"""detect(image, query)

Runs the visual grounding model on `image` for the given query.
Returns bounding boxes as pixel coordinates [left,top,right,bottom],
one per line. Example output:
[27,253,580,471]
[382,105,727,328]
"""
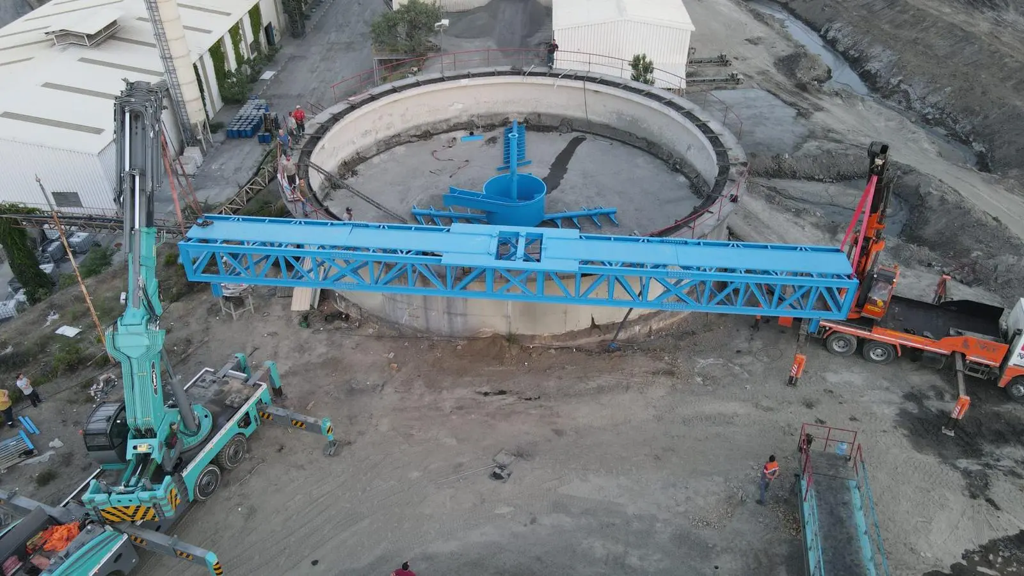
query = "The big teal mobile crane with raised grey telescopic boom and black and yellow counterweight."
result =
[0,84,341,576]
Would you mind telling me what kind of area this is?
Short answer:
industrial area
